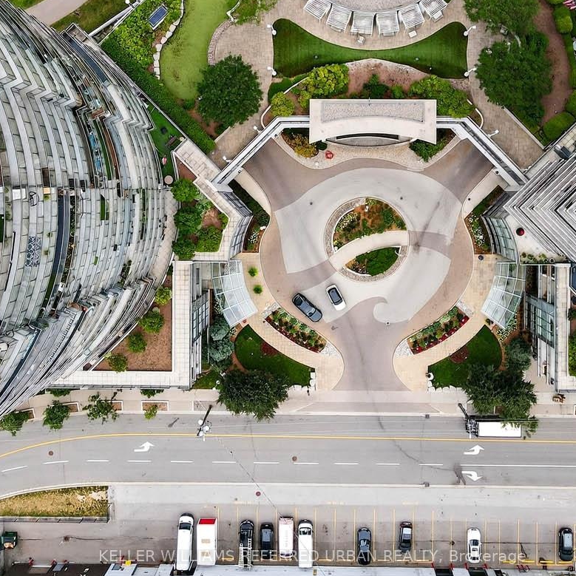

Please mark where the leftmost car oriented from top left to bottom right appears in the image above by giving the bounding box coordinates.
[290,291,325,323]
